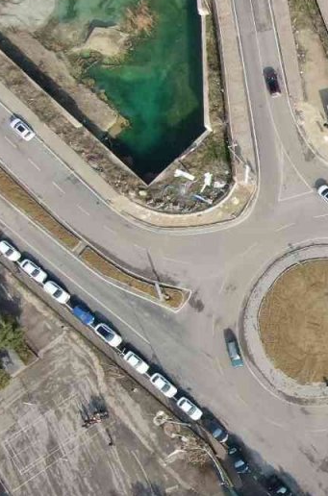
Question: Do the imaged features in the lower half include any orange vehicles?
No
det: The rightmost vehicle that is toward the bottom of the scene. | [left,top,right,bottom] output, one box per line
[266,478,292,496]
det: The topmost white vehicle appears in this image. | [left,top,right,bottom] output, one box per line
[11,120,36,141]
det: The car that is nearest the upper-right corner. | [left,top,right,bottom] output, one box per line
[263,68,279,95]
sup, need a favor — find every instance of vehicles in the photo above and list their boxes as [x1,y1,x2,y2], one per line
[11,120,36,141]
[225,447,251,474]
[70,304,96,327]
[123,349,150,375]
[175,395,203,422]
[18,258,48,283]
[226,341,243,366]
[41,280,71,305]
[95,323,121,347]
[202,418,229,444]
[149,371,178,399]
[263,68,279,95]
[266,478,292,496]
[0,239,23,263]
